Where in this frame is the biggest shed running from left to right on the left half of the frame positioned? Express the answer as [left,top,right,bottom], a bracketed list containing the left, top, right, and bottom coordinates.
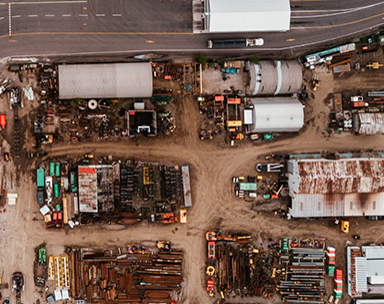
[57,65,155,99]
